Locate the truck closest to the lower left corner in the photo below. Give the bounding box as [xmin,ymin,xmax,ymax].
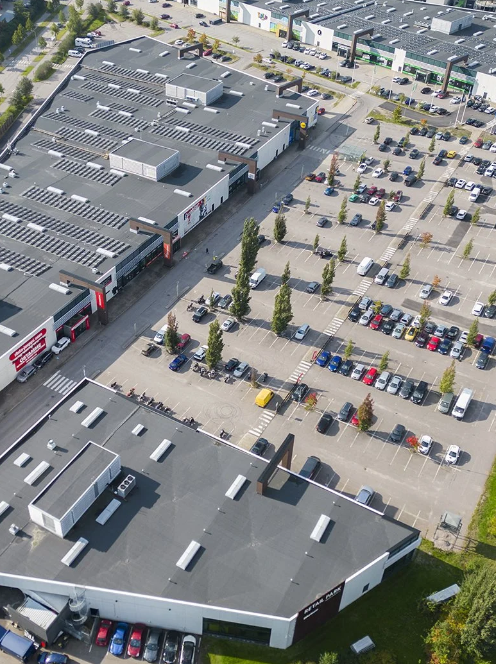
[0,627,41,664]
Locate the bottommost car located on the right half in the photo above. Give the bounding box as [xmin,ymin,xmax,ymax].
[357,485,375,507]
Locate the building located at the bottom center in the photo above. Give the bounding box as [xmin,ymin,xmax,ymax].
[0,380,425,650]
